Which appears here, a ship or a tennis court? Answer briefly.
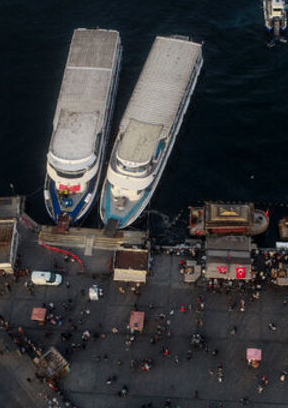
ship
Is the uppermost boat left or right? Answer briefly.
right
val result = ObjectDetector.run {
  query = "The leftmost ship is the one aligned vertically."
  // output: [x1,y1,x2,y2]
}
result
[44,23,123,228]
